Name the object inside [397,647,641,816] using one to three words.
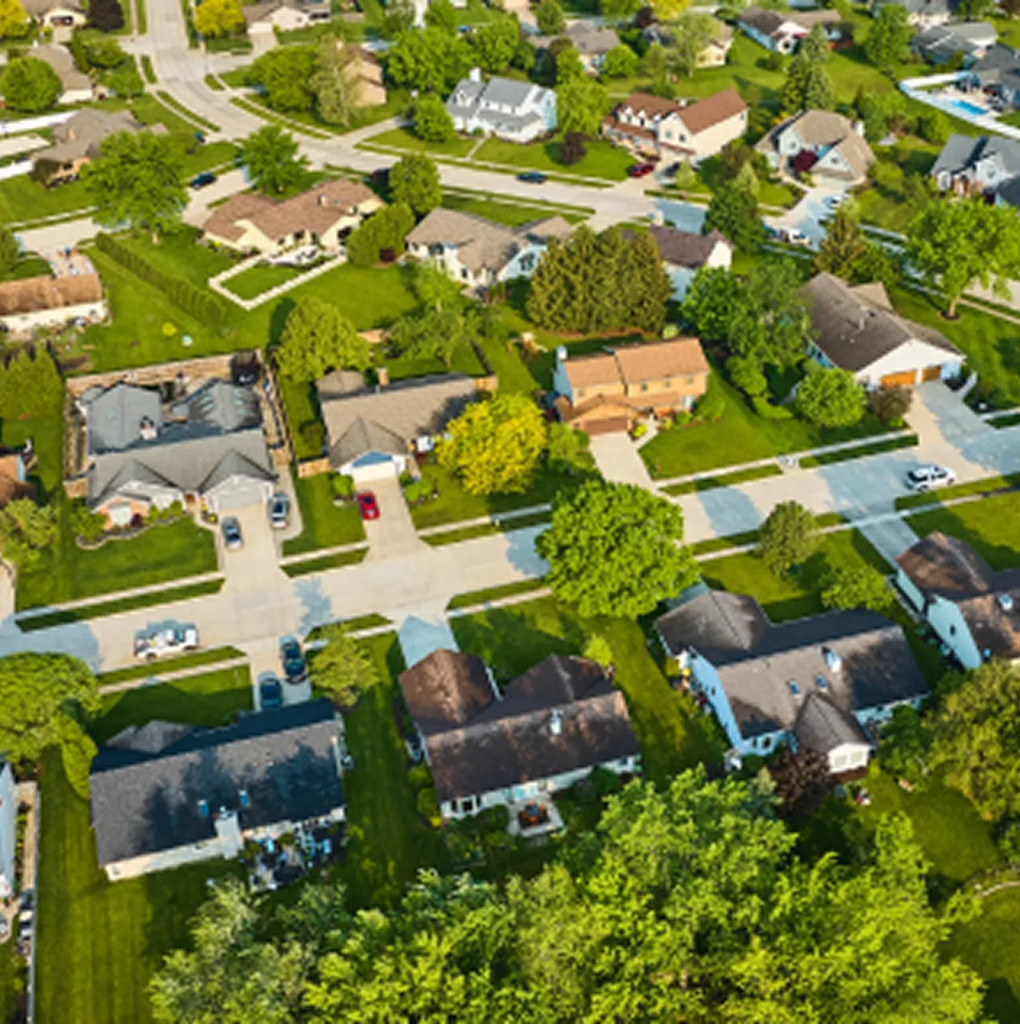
house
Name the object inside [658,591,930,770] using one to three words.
house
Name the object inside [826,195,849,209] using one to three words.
car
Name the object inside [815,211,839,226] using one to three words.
car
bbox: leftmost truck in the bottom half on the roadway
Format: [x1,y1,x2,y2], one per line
[133,625,201,658]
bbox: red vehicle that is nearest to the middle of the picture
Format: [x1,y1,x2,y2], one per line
[357,491,381,523]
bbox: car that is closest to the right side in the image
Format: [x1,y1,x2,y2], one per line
[906,467,955,492]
